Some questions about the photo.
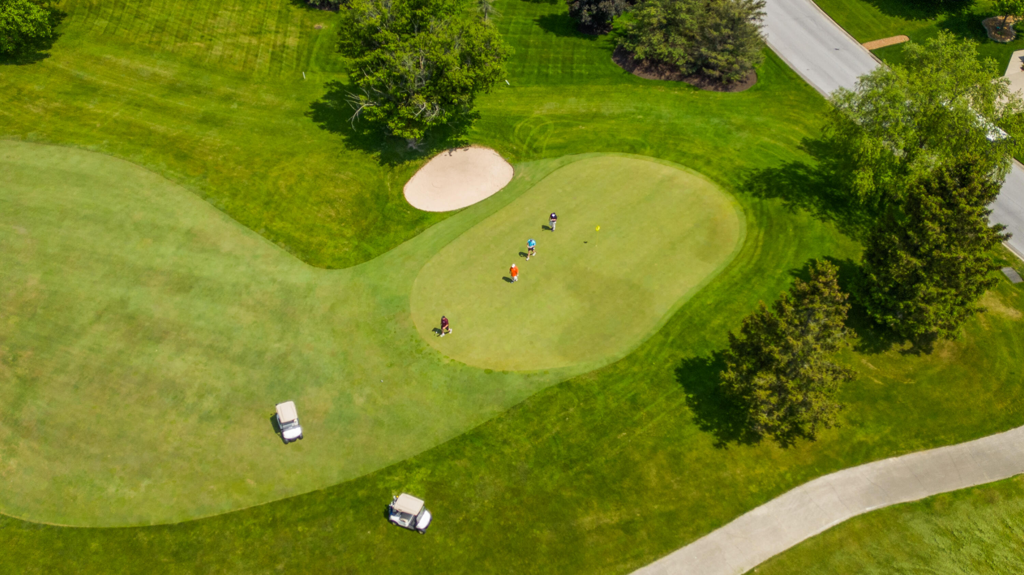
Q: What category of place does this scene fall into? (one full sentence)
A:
What you see here is a golf course.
